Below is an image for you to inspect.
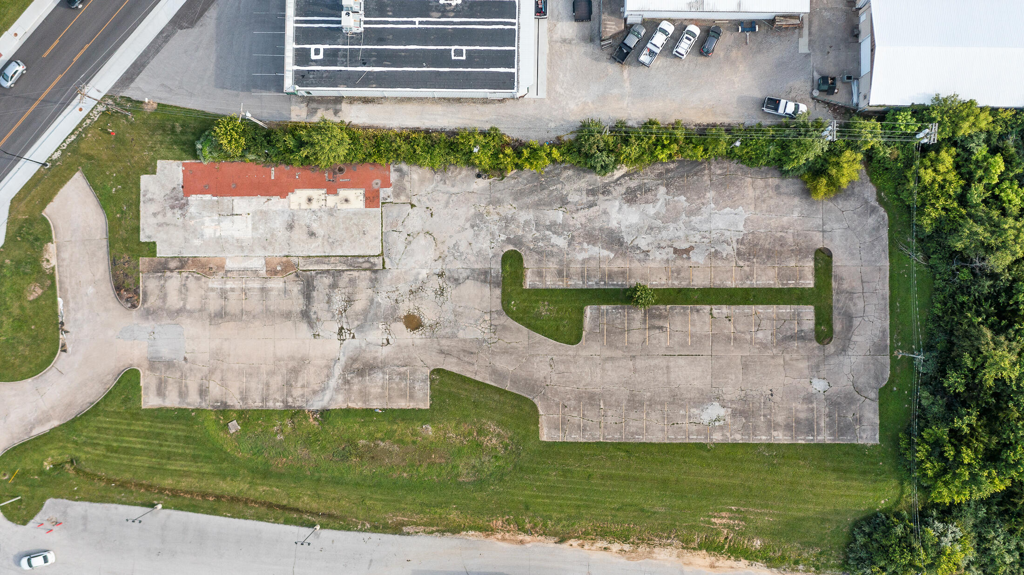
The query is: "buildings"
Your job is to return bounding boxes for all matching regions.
[859,0,1024,115]
[624,0,810,19]
[284,0,535,102]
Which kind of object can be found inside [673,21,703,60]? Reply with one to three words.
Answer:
car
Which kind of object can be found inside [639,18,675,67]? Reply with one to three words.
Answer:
truck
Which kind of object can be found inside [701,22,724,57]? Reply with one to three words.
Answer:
car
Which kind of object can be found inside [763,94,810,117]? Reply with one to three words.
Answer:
truck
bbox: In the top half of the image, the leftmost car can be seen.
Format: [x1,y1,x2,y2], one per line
[0,58,26,88]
